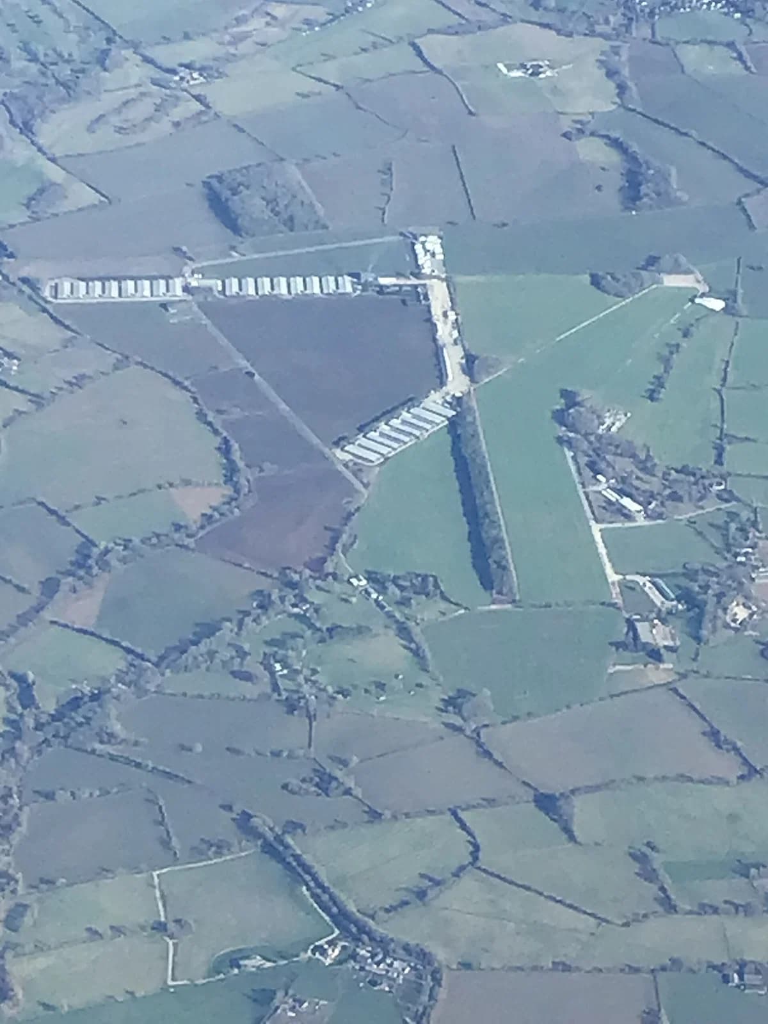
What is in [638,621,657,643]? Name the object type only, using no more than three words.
barn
